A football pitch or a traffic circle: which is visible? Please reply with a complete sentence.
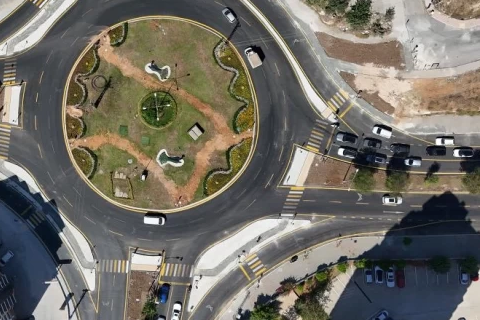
Visible in the photo is a traffic circle.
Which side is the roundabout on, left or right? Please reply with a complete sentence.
The roundabout appears in the left half of the scene.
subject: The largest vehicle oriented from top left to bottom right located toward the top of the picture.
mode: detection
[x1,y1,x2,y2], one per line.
[244,45,263,69]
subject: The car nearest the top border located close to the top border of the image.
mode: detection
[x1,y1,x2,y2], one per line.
[222,7,236,23]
